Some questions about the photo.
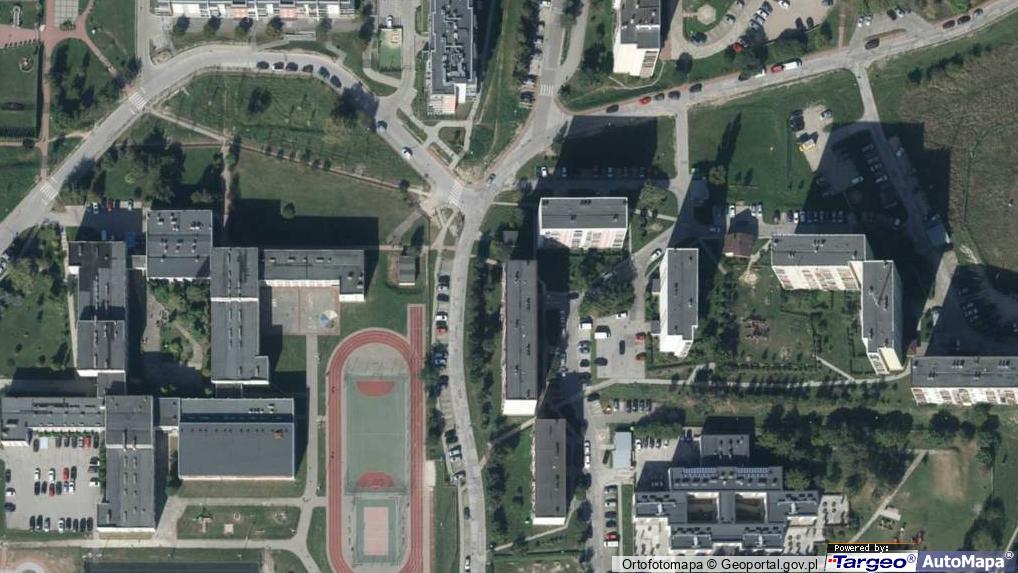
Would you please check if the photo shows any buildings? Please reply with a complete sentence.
Yes, I can see a building in this picture.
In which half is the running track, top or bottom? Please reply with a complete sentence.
The bottom half of the photo is where the running track is.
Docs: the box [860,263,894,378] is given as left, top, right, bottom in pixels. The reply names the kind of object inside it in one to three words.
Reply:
building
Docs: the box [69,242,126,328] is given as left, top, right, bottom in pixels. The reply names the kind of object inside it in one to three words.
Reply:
building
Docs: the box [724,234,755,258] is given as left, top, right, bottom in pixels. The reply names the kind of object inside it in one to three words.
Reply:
house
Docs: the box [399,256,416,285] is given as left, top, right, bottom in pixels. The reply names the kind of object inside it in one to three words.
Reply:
house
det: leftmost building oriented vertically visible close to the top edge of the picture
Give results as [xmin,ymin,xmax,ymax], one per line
[431,0,472,112]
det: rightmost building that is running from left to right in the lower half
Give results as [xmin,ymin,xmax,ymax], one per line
[910,357,1018,407]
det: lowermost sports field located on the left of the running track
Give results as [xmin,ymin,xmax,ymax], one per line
[85,549,259,573]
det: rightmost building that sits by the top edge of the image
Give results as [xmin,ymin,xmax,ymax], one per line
[615,0,660,77]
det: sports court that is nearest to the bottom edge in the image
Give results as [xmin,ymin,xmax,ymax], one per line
[355,497,400,565]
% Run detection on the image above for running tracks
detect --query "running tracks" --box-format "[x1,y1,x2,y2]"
[325,303,426,573]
